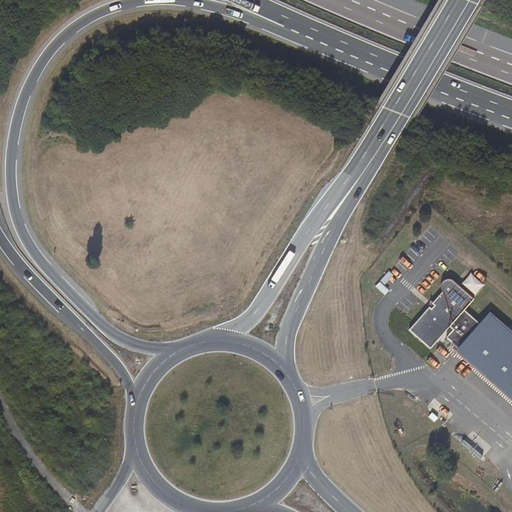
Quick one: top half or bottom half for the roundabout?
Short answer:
bottom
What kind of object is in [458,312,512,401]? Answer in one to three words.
hangar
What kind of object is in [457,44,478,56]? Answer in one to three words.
vehicle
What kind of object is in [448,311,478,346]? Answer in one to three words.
building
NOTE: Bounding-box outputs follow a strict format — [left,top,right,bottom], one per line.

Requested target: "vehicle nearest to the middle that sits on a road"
[268,248,294,287]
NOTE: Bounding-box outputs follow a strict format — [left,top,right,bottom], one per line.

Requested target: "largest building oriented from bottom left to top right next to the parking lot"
[410,279,474,348]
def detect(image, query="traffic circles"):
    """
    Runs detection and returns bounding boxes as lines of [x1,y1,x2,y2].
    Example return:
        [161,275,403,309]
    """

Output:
[124,328,316,512]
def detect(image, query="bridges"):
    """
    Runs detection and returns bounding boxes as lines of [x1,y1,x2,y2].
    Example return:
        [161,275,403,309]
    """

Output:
[373,0,483,130]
